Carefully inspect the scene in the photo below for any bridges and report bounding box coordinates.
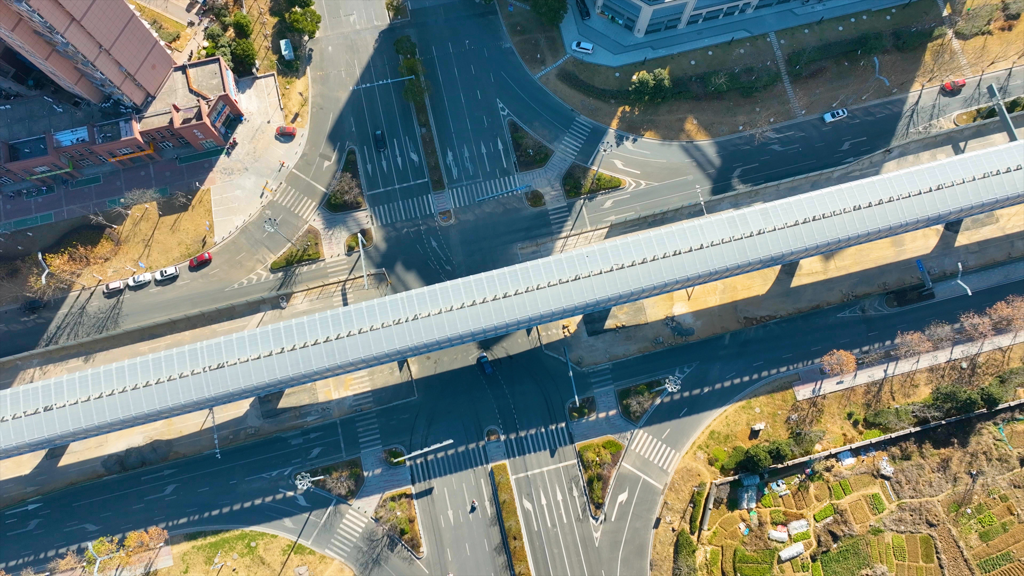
[0,135,1024,460]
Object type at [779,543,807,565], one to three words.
greenhouse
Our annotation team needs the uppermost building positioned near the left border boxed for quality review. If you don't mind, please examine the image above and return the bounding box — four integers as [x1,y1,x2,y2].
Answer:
[0,0,174,108]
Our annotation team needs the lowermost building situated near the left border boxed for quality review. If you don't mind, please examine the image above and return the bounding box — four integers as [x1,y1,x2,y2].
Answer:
[0,55,256,202]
